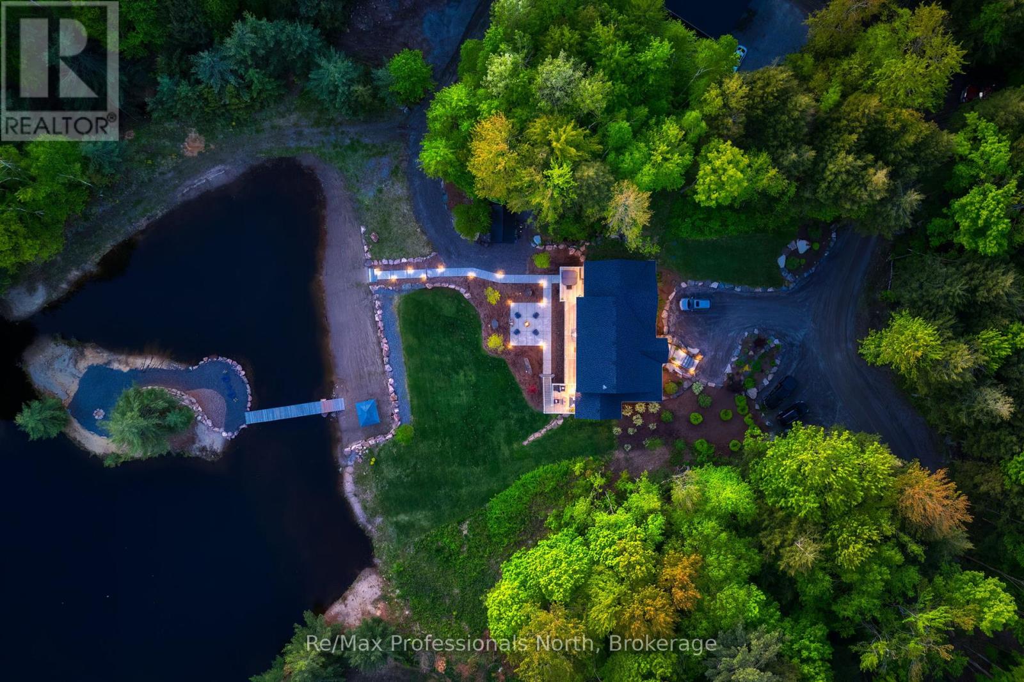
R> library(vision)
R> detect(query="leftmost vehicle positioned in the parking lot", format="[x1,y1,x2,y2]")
[679,297,711,312]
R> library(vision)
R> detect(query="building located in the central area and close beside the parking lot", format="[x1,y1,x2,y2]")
[540,259,669,420]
